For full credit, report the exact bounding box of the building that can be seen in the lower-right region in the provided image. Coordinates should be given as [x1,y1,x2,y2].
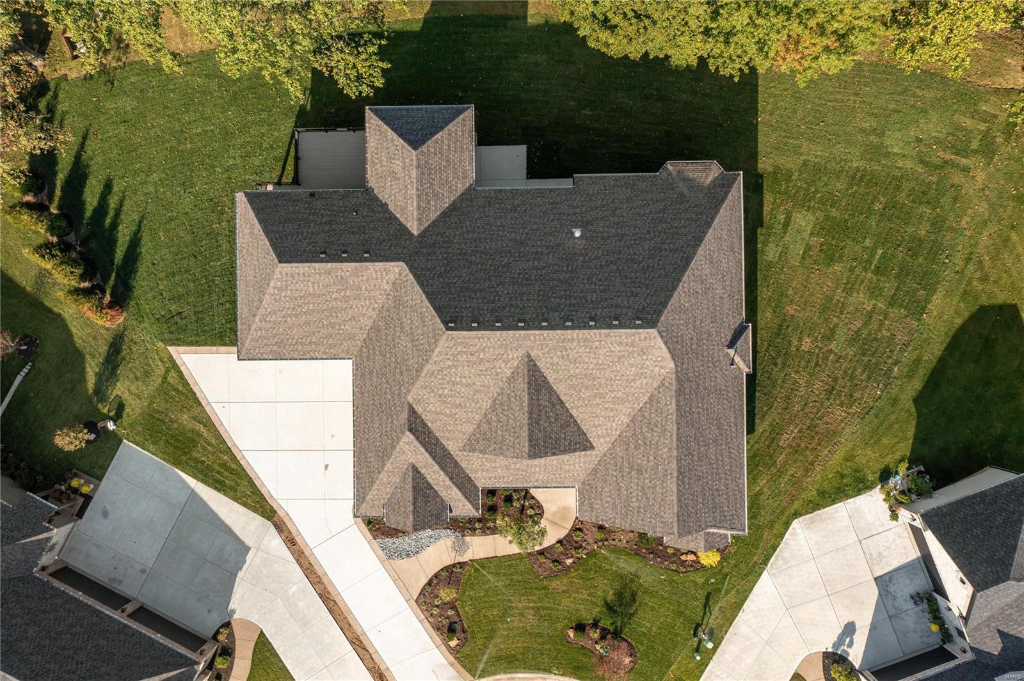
[865,466,1024,681]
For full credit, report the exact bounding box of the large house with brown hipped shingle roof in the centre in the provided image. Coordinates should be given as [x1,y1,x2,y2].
[235,103,754,552]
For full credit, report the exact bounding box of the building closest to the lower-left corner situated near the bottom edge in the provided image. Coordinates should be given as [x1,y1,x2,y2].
[0,477,220,681]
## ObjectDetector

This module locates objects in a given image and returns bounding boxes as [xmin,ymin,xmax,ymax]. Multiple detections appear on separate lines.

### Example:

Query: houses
[0,477,220,681]
[235,103,754,552]
[865,466,1024,681]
